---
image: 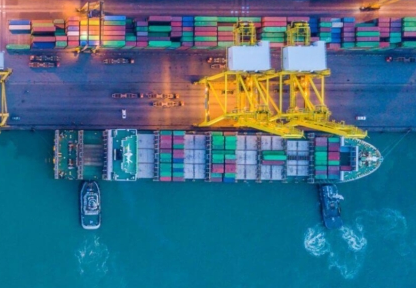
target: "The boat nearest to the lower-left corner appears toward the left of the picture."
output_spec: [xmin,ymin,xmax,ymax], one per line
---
[80,181,102,231]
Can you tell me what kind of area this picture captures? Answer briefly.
port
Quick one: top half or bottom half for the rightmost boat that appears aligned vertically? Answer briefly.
bottom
